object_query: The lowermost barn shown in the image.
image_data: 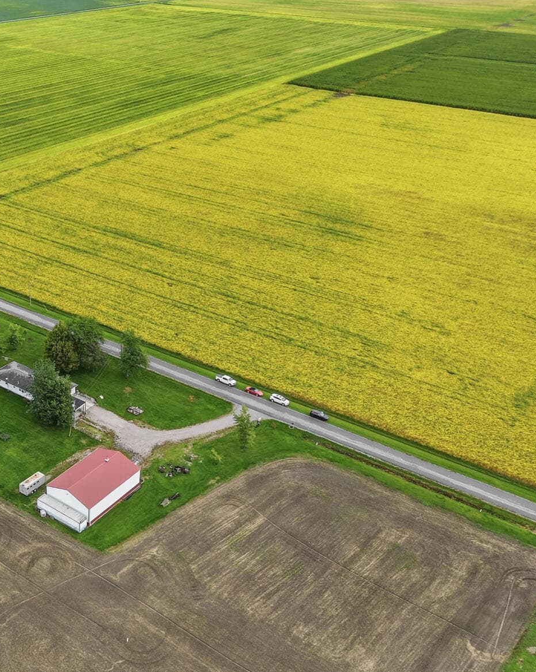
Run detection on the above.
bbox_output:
[45,448,142,527]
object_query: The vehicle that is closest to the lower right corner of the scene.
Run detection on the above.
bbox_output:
[308,407,330,421]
